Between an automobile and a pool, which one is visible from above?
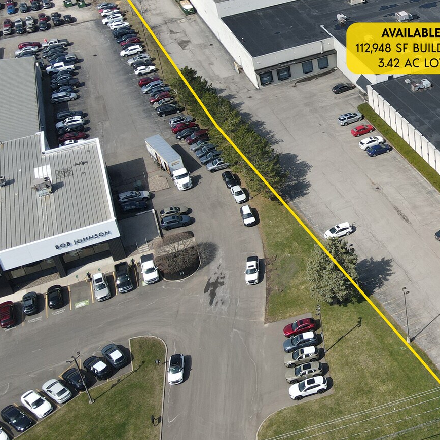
automobile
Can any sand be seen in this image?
No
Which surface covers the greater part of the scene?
paved ground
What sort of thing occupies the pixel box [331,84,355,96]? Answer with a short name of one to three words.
vehicle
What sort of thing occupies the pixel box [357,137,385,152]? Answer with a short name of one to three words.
car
